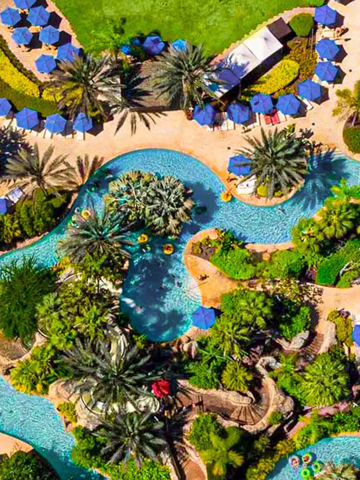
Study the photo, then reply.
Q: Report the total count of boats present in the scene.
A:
0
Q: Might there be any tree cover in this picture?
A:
Yes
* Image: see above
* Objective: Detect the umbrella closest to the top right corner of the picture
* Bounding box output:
[314,5,335,26]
